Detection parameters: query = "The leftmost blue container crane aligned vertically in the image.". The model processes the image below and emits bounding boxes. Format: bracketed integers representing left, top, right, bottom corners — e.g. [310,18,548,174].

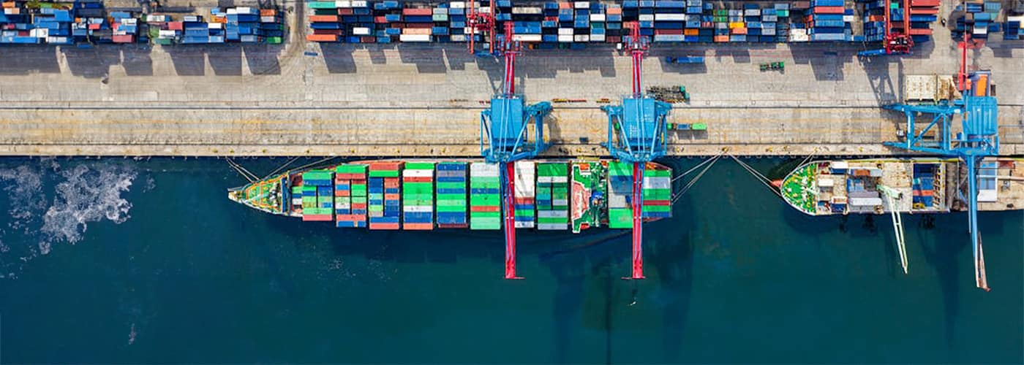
[481,19,548,280]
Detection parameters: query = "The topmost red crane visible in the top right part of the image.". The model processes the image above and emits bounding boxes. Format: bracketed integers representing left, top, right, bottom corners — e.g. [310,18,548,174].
[859,0,913,57]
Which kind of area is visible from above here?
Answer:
port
